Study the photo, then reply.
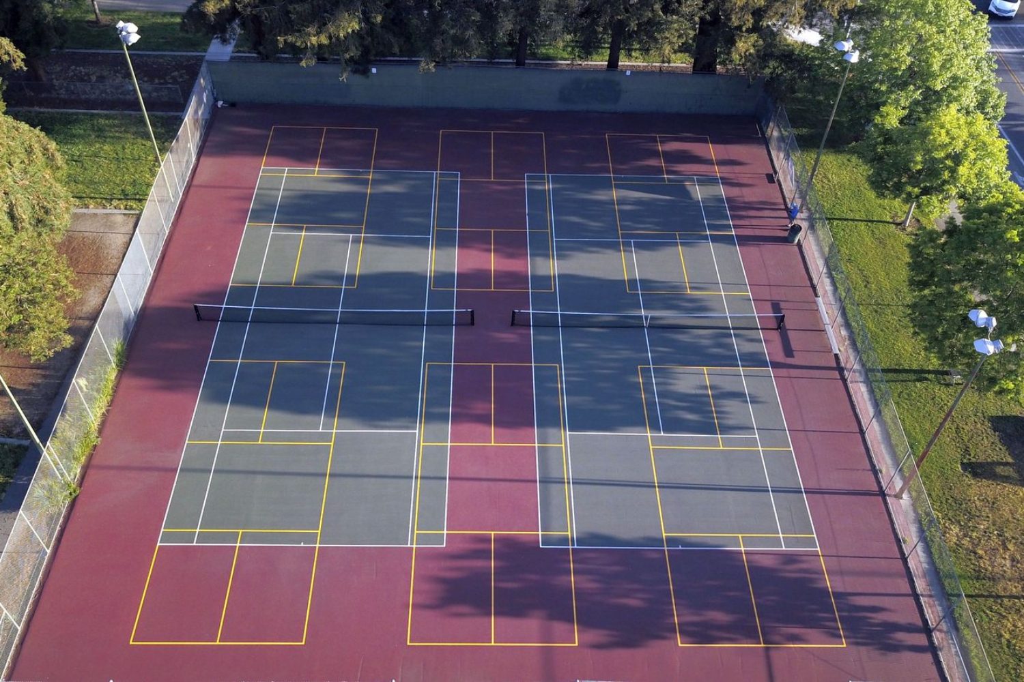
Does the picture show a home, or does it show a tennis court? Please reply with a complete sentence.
There is a tennis court in the scene.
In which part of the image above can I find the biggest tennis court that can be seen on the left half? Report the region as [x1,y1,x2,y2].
[158,167,460,547]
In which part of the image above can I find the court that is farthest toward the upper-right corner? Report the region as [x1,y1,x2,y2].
[606,133,750,295]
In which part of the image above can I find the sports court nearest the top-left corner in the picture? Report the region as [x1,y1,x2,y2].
[239,125,378,288]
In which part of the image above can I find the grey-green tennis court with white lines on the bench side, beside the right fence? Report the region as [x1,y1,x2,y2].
[525,173,819,550]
